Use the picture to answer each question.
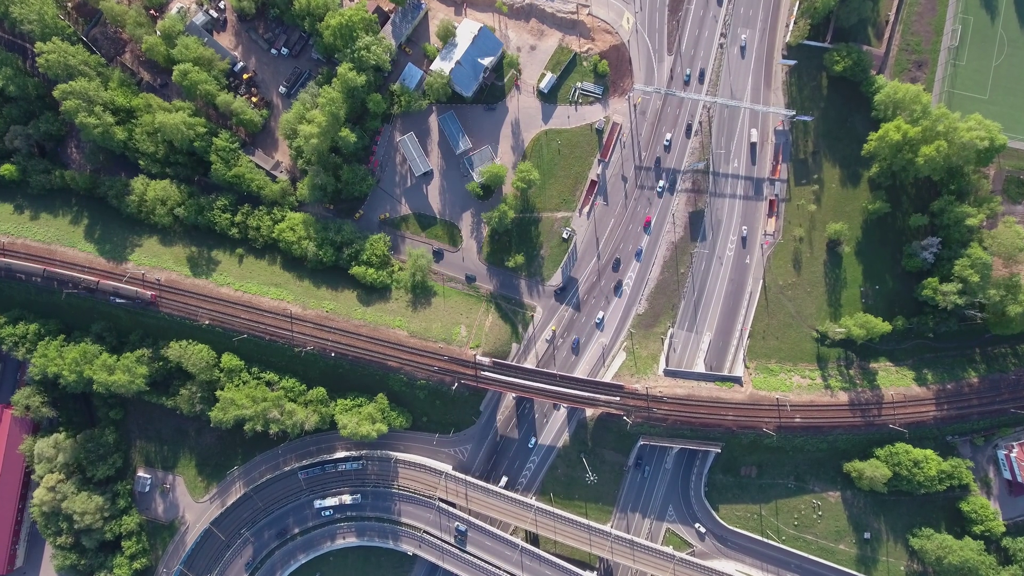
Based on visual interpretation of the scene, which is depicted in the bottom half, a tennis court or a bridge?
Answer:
bridge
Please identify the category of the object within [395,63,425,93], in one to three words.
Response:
building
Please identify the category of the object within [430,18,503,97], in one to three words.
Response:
house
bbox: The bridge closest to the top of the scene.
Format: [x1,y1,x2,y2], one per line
[459,355,626,417]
